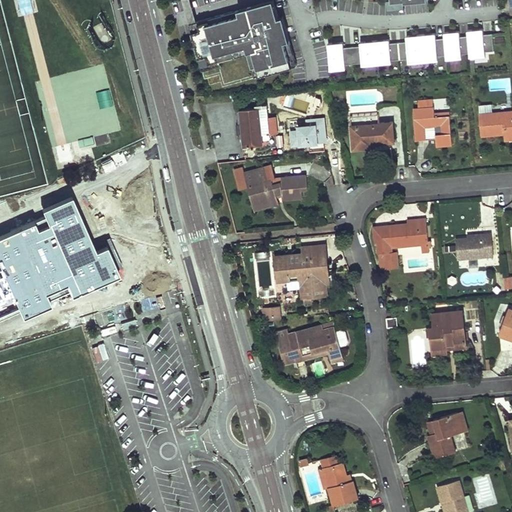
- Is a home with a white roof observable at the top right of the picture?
Yes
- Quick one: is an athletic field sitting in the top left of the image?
Yes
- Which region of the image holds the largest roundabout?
bottom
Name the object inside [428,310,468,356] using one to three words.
house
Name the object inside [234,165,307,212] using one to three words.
house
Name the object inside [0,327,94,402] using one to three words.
sports field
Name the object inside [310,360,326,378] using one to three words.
swimming pool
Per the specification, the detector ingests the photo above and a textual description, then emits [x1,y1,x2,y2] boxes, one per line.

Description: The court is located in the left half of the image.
[35,64,121,148]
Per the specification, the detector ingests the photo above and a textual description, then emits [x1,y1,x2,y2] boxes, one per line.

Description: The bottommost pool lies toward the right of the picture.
[305,471,321,497]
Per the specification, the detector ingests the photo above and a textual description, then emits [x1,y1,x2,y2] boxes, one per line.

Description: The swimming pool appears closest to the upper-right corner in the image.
[489,78,506,90]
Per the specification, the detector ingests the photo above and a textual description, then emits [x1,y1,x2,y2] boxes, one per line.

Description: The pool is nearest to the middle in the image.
[257,260,272,288]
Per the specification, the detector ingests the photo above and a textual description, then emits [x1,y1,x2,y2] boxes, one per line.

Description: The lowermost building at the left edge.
[0,198,122,320]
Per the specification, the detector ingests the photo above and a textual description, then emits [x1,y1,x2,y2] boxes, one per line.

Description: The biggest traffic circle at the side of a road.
[214,387,288,463]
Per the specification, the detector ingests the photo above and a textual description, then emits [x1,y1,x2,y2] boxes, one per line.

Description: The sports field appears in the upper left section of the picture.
[0,0,48,198]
